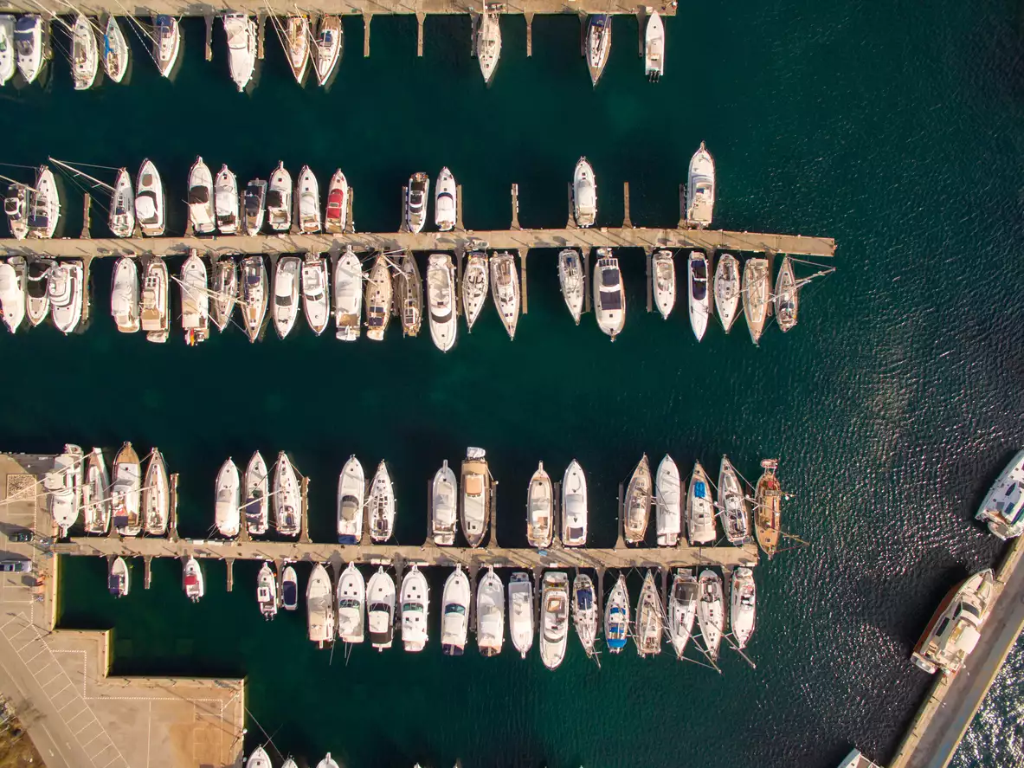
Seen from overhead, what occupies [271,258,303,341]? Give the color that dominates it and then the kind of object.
white boat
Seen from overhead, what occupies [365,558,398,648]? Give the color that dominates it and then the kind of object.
white boat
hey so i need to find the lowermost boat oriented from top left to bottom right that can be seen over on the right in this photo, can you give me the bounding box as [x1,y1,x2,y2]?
[912,657,932,673]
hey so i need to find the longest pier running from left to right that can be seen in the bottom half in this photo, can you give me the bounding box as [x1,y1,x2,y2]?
[70,473,758,635]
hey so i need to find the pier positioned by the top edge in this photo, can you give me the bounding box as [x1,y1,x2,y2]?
[0,0,676,63]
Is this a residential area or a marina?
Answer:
marina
